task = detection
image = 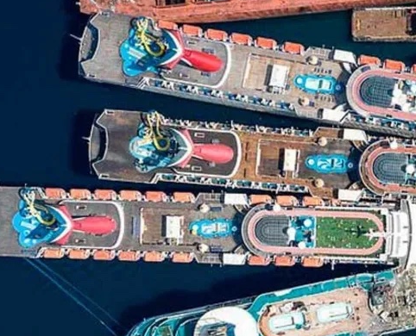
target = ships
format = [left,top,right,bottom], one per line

[70,10,416,138]
[0,187,416,271]
[79,109,416,203]
[129,266,416,336]
[351,3,416,43]
[75,0,416,23]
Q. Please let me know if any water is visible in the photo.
Yes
